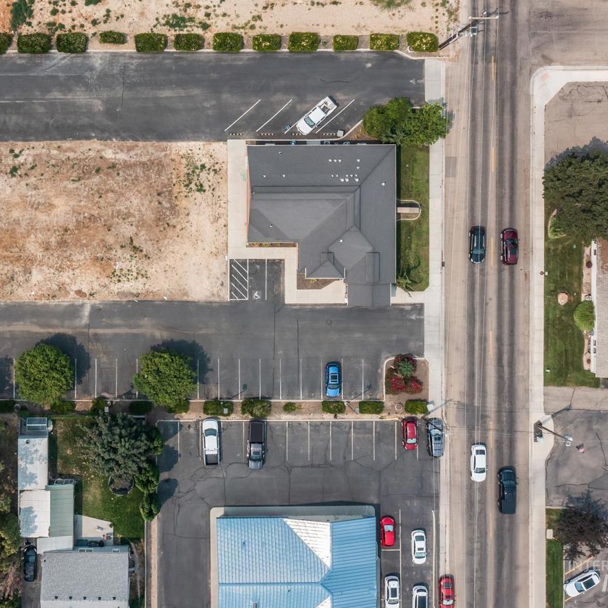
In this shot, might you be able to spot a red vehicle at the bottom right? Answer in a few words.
Yes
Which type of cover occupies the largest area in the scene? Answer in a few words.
paved ground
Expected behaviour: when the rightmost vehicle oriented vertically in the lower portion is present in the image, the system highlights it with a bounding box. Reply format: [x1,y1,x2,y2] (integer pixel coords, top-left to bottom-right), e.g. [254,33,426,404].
[497,465,518,513]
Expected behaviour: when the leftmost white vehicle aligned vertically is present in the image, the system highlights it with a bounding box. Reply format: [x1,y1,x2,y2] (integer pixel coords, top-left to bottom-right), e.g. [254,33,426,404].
[203,417,220,465]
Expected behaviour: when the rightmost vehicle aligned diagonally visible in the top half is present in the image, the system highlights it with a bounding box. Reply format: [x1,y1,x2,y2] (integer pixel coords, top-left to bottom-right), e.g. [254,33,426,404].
[297,94,340,134]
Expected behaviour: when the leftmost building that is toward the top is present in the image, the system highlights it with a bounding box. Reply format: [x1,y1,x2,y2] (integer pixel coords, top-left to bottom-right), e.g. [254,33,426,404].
[246,144,398,306]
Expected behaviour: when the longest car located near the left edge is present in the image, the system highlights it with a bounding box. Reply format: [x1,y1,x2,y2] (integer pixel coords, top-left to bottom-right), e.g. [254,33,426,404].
[21,543,38,581]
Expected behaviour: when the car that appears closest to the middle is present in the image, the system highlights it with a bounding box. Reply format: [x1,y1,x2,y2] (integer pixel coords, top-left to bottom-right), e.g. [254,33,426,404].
[325,362,342,398]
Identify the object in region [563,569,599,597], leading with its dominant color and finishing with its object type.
white car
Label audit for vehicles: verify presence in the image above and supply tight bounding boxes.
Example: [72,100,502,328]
[203,417,220,465]
[425,416,442,454]
[499,228,520,264]
[384,573,402,608]
[248,419,266,467]
[438,574,457,608]
[401,417,418,449]
[297,94,340,134]
[467,227,486,263]
[411,583,427,608]
[470,443,488,481]
[563,569,599,597]
[325,362,342,398]
[497,465,518,513]
[21,543,38,581]
[410,527,427,563]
